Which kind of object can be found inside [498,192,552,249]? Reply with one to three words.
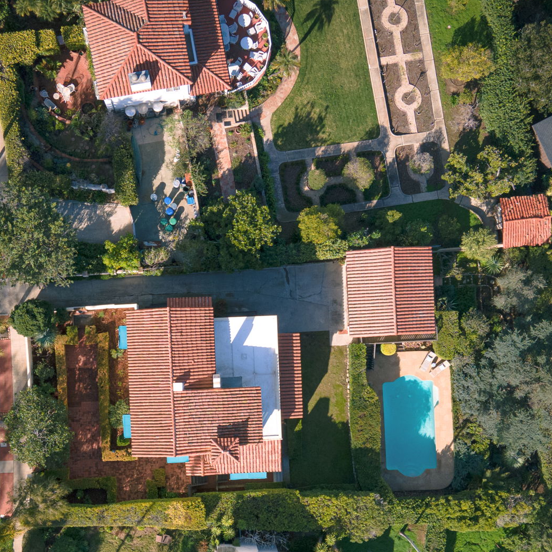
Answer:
building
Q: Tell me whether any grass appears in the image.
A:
Yes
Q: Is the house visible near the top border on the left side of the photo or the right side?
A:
left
